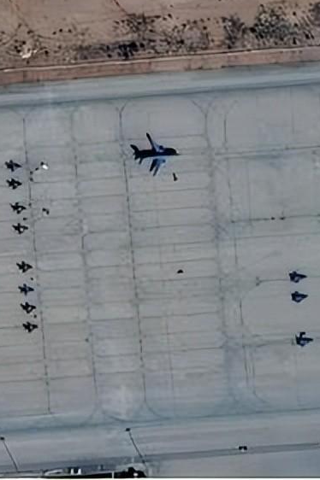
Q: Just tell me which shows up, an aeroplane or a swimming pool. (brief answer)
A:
aeroplane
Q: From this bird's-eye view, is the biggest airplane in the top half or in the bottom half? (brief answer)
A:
top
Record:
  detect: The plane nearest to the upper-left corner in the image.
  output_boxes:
[5,161,22,174]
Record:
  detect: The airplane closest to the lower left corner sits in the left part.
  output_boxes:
[22,321,39,334]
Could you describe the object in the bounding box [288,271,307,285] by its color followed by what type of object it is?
black airplane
